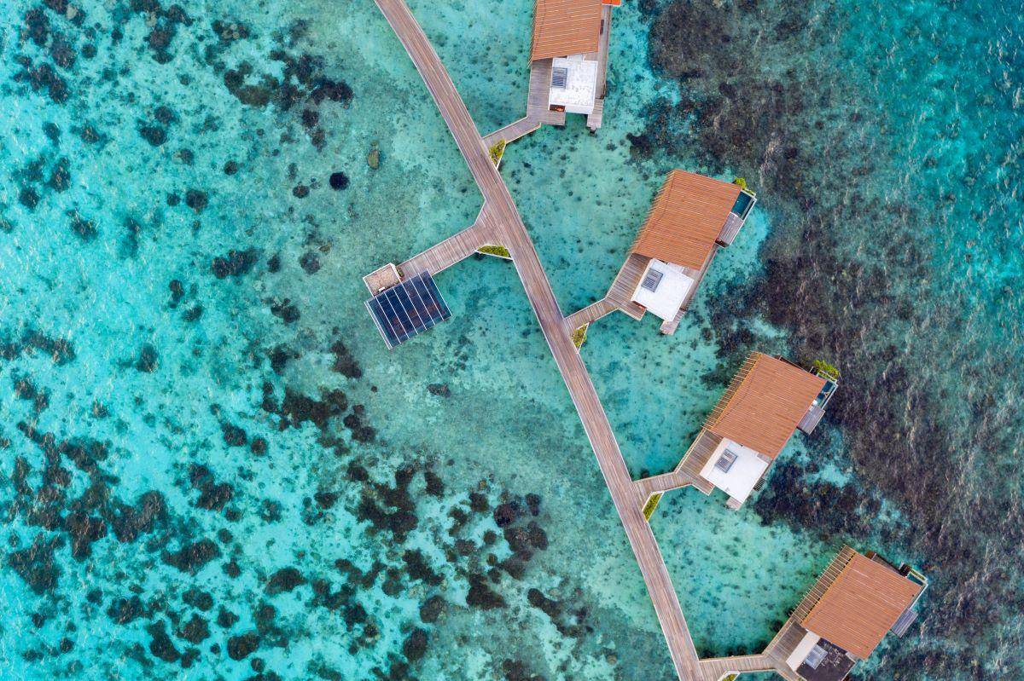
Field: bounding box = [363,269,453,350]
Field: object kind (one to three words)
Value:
building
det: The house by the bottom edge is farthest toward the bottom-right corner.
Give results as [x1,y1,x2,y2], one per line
[756,543,928,681]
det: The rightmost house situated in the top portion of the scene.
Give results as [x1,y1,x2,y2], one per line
[605,171,757,337]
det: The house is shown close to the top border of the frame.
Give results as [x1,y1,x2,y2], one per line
[525,0,612,140]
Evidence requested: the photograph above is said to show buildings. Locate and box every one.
[605,171,757,337]
[363,269,453,350]
[756,543,928,681]
[673,351,836,509]
[525,0,612,140]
